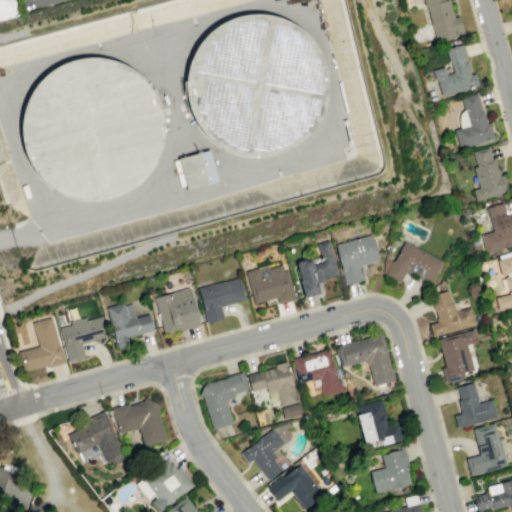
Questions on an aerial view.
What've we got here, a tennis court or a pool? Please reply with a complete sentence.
Looking from above, you can make out a pool.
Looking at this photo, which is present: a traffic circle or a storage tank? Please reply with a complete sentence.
Looking from above, you can make out a storage tank.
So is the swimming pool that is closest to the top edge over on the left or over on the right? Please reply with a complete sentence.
You can find the swimming pool that is closest to the top edge on the right side of the picture.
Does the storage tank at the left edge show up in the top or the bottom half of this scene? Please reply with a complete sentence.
You can find the storage tank at the left edge in the top half.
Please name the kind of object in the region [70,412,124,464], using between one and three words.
house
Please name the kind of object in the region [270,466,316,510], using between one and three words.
house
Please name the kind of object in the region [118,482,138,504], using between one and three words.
swimming pool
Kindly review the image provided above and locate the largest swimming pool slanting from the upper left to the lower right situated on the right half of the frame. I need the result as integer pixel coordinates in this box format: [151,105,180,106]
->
[406,220,430,241]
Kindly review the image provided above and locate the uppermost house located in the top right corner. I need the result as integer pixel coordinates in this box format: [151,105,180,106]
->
[428,0,465,42]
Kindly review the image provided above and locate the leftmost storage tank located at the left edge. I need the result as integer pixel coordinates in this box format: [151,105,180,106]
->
[24,58,167,201]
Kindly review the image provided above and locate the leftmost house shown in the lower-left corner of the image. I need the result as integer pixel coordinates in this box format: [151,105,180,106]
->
[0,470,34,511]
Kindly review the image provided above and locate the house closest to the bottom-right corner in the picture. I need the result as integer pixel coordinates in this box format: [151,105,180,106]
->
[474,480,512,512]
